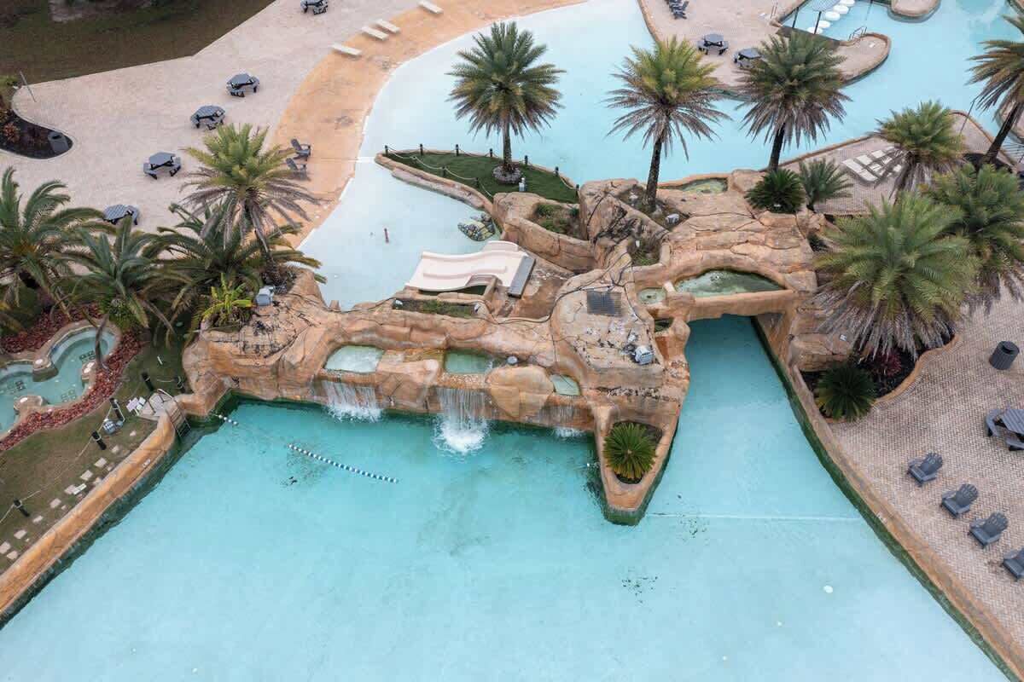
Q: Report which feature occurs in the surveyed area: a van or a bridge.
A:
bridge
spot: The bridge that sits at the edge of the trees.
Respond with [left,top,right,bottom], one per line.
[636,169,830,330]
